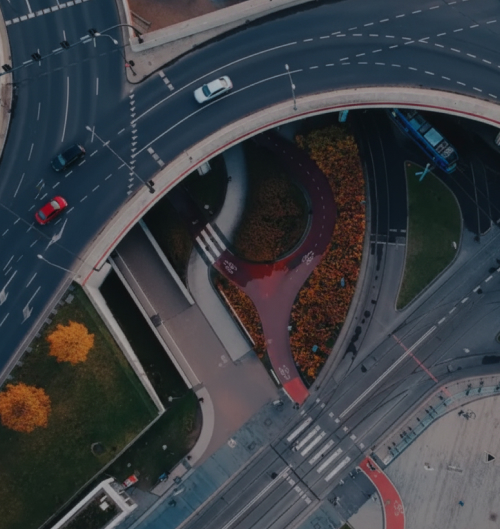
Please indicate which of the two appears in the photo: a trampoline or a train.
train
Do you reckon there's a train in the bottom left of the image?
No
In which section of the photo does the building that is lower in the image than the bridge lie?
bottom left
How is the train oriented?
at an angle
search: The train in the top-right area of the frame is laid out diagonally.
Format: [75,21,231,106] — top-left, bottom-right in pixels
[392,110,462,171]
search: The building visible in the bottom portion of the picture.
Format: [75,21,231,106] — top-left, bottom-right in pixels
[52,476,138,529]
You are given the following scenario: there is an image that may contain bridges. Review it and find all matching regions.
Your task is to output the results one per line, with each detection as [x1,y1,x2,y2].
[0,0,500,389]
